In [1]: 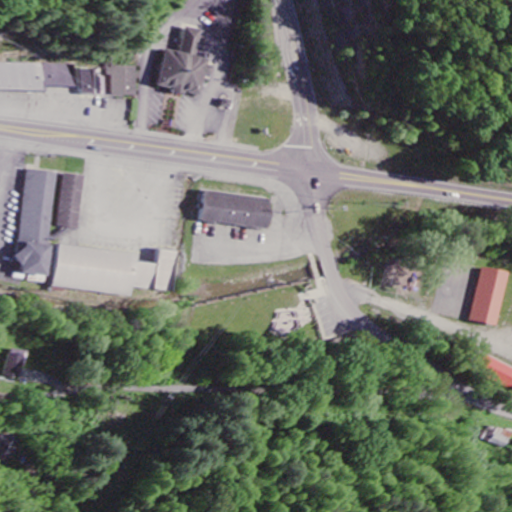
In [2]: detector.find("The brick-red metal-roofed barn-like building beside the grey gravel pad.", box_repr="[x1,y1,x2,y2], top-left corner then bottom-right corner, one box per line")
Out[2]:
[468,268,510,325]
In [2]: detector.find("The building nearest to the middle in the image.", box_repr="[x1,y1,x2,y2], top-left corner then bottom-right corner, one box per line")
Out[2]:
[198,191,271,229]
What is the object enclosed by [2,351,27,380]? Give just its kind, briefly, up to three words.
house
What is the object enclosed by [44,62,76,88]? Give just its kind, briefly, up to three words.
building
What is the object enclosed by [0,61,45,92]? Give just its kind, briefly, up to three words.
building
